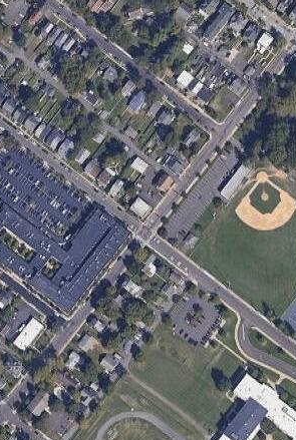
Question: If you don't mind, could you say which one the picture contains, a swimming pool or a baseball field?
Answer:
baseball field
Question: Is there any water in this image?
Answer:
No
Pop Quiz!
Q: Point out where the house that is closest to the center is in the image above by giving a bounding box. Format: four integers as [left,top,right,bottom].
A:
[131,196,152,216]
